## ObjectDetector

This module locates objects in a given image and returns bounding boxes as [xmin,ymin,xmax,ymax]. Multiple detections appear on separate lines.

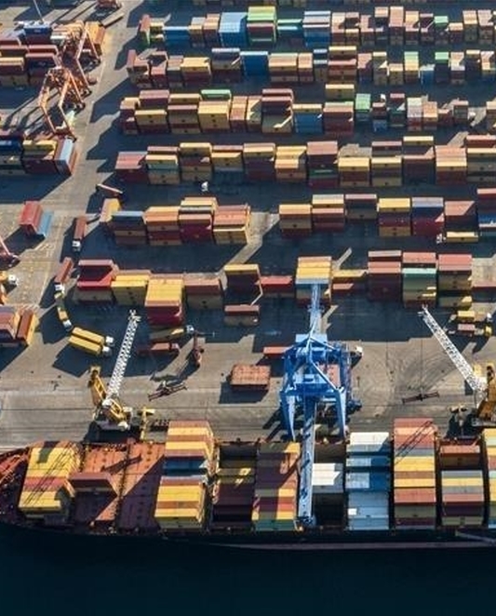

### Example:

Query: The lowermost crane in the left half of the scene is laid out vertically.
[86,310,149,444]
